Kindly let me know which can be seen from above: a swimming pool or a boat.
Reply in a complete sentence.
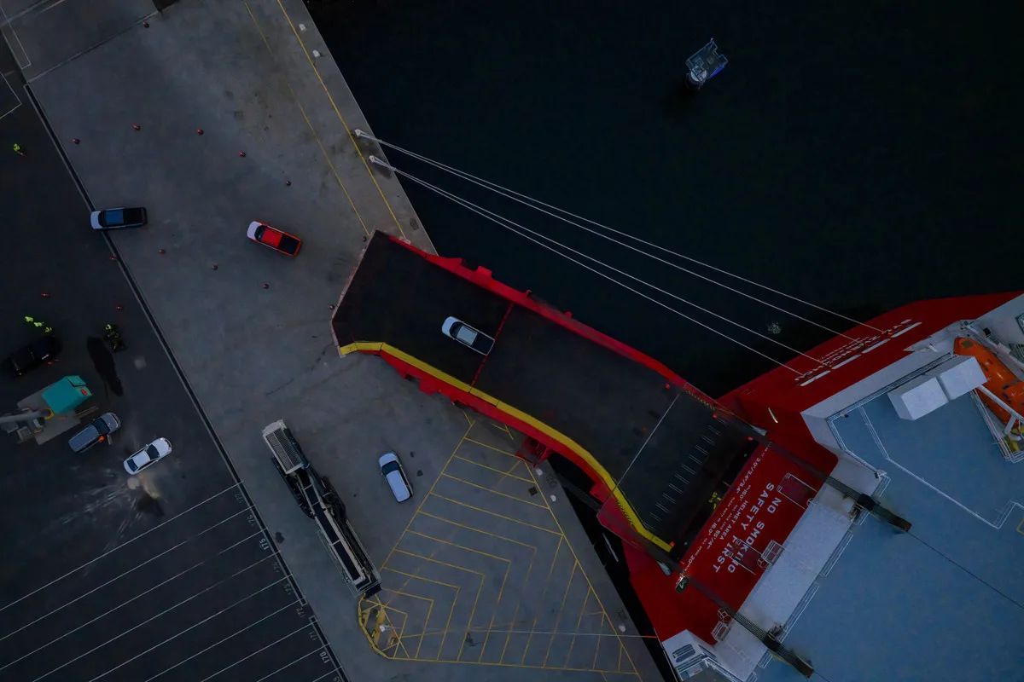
The image shows a boat.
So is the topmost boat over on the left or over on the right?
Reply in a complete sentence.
The topmost boat is on the right side of the image.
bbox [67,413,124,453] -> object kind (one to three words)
car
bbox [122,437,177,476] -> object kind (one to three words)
car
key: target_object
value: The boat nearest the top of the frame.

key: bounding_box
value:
[683,38,728,91]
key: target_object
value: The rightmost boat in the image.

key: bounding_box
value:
[955,337,1024,426]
